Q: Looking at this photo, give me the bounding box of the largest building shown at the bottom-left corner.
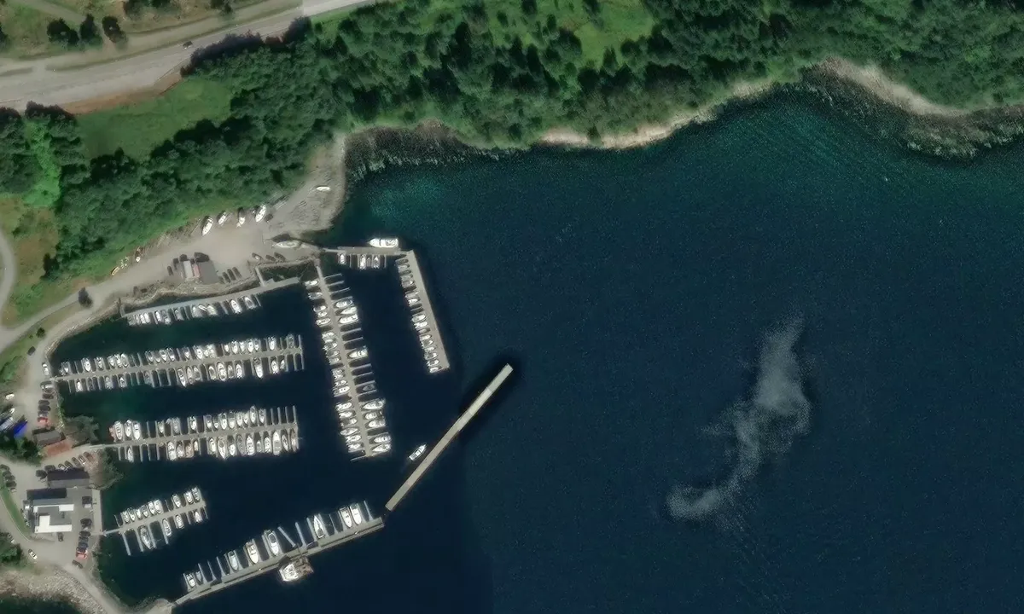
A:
[32,498,74,534]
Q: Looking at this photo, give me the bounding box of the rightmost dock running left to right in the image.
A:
[316,247,409,267]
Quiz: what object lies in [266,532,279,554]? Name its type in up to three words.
boat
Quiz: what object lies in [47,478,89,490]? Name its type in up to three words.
shed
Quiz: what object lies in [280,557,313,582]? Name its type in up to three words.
ship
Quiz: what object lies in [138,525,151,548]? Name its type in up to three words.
boat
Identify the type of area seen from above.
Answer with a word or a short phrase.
port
